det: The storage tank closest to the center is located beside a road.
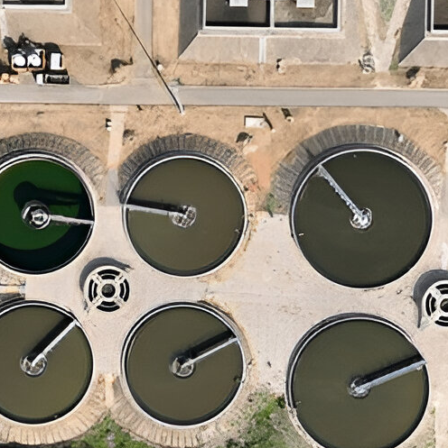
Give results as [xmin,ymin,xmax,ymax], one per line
[116,132,268,284]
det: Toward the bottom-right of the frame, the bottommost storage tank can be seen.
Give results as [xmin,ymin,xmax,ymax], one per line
[272,311,433,448]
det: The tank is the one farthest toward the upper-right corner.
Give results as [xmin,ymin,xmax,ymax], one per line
[272,127,443,295]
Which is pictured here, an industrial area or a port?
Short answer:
industrial area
